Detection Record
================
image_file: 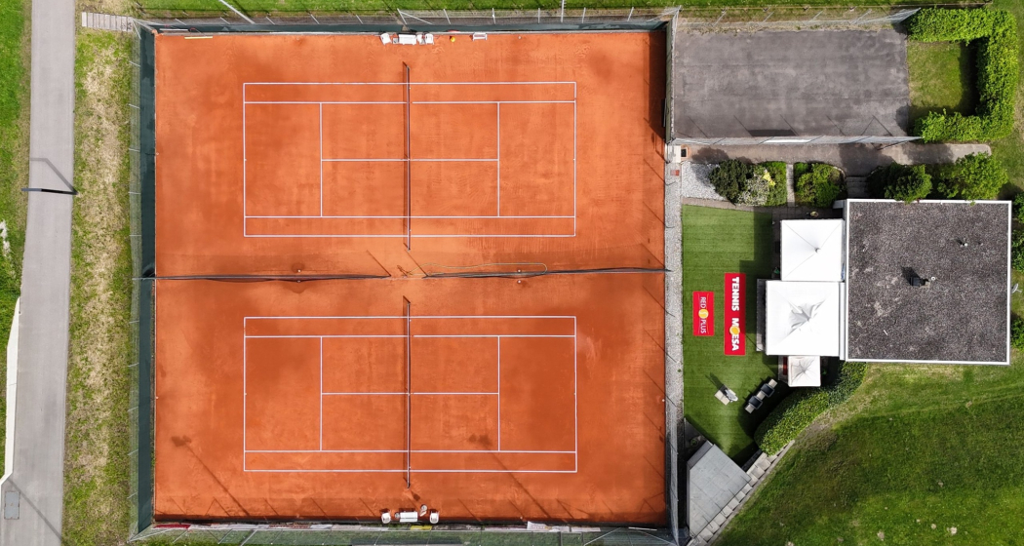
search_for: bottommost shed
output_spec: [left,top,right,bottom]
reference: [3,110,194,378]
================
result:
[688,441,751,538]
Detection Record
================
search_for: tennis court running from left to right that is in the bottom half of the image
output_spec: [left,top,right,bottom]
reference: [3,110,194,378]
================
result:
[155,276,666,523]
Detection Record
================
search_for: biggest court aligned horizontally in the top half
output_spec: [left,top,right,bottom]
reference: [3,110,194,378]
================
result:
[155,32,666,276]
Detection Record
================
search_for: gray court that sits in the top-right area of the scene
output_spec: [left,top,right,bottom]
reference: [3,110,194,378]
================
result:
[673,26,910,145]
